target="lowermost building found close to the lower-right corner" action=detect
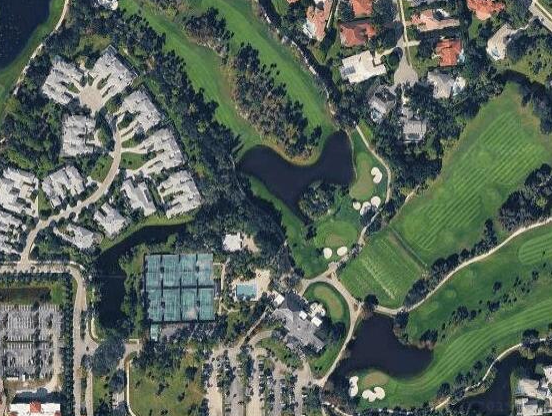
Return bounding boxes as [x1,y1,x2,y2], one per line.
[519,395,544,414]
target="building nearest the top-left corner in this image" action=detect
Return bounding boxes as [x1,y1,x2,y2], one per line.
[37,57,87,104]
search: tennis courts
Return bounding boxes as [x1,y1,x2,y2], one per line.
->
[199,288,217,321]
[196,253,215,287]
[161,253,180,287]
[144,253,162,287]
[164,288,183,321]
[147,288,165,321]
[182,288,199,321]
[180,253,197,287]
